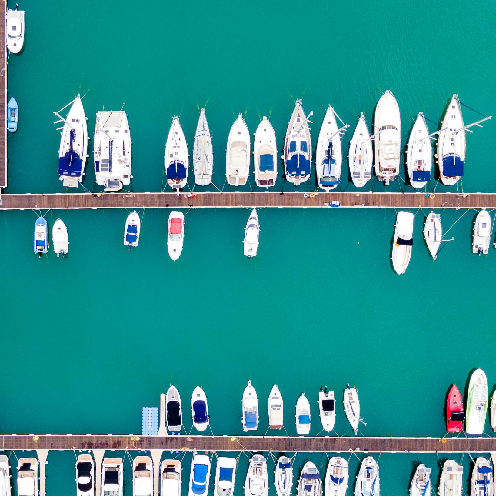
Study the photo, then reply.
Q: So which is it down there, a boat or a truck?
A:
boat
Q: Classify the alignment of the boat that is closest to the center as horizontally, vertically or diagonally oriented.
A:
vertically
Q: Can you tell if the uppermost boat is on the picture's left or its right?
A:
left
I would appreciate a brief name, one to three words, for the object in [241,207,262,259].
boat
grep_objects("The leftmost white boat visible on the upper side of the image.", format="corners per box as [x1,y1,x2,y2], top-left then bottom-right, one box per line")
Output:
[5,2,25,53]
